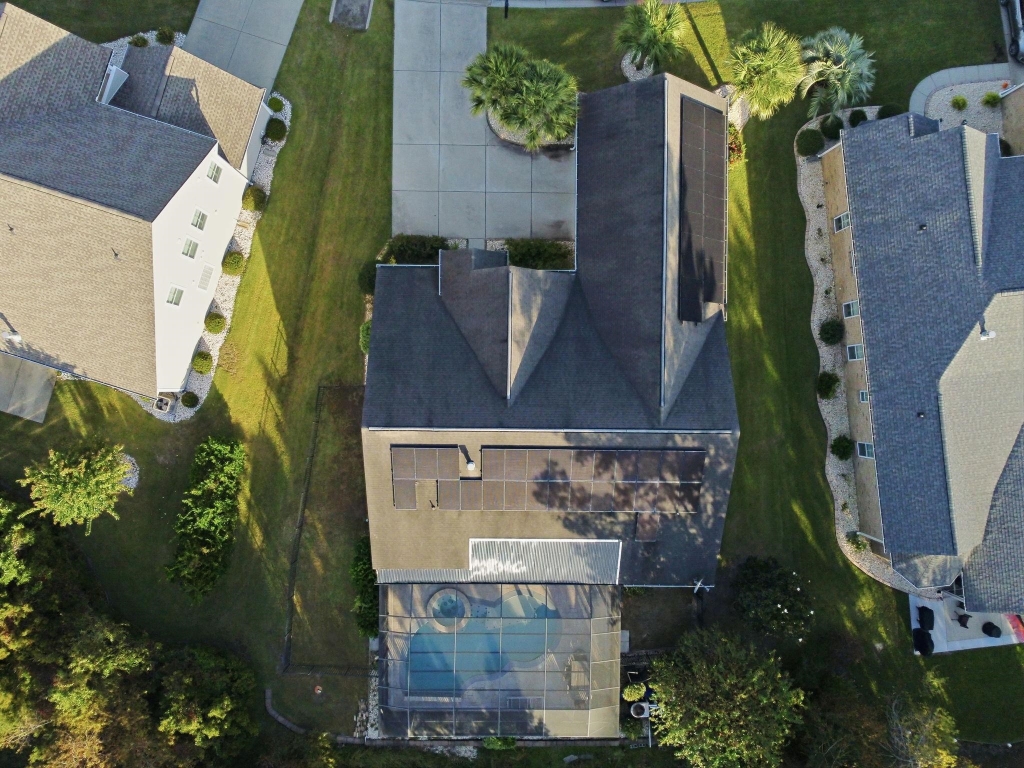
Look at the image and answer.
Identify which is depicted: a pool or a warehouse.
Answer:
pool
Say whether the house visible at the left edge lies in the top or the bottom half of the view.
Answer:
top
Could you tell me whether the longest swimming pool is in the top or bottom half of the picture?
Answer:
bottom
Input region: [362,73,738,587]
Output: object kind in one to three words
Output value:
house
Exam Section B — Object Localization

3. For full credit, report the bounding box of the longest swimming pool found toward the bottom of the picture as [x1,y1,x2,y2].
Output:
[401,586,567,705]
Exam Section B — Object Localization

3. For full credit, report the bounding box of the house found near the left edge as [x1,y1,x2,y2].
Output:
[0,0,284,404]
